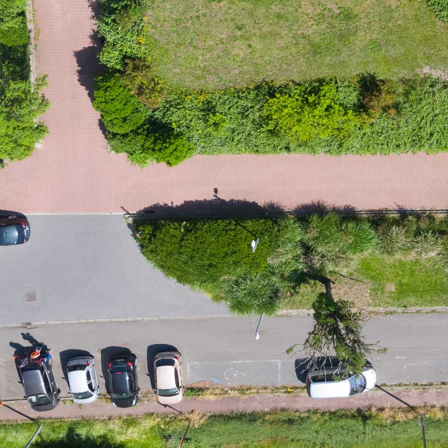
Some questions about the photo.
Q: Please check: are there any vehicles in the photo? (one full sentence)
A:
Yes, there's a vehicle down there.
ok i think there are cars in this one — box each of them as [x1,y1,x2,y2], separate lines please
[102,354,138,415]
[61,352,98,411]
[0,214,28,249]
[149,350,183,409]
[13,351,56,415]
[304,357,375,398]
